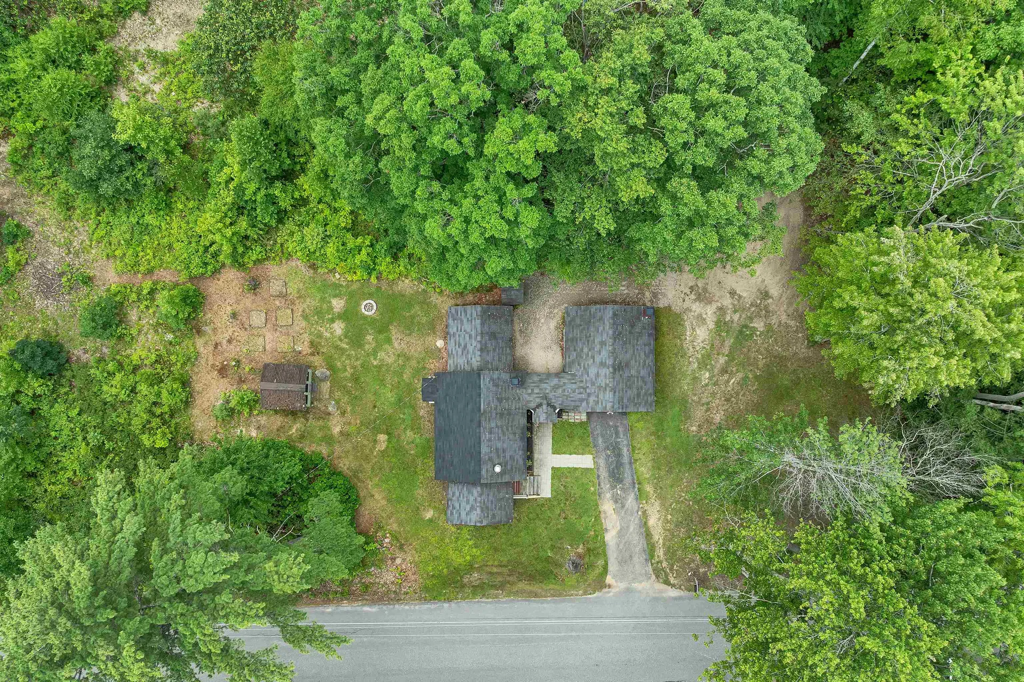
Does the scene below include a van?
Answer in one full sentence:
No, no van can be seen from above.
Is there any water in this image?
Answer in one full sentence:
No, there's no water in this view.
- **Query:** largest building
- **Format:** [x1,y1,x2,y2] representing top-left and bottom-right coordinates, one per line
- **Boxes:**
[421,305,655,527]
